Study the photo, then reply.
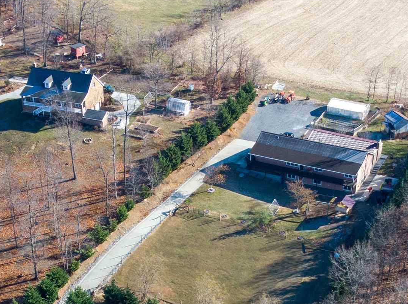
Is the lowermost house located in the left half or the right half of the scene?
right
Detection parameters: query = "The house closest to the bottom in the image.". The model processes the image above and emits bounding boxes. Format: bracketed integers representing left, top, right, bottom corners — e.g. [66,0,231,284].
[248,125,384,193]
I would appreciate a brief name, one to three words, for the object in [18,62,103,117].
house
